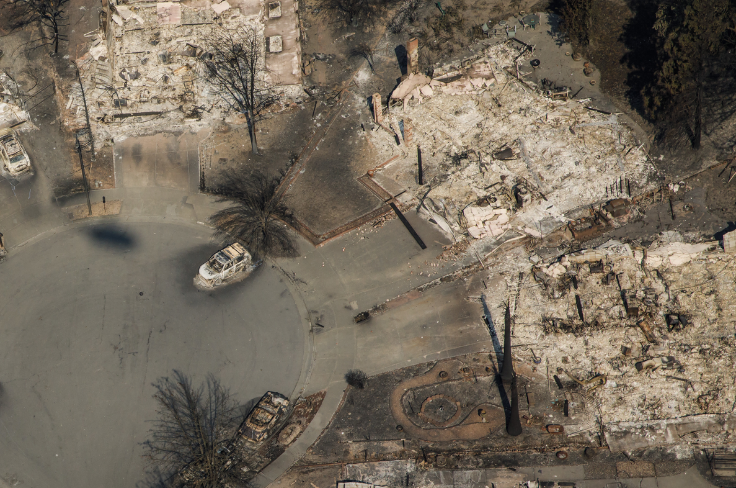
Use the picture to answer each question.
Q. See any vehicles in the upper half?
Yes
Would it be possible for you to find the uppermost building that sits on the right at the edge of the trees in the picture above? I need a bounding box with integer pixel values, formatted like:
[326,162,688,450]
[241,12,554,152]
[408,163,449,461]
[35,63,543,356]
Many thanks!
[360,30,670,240]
